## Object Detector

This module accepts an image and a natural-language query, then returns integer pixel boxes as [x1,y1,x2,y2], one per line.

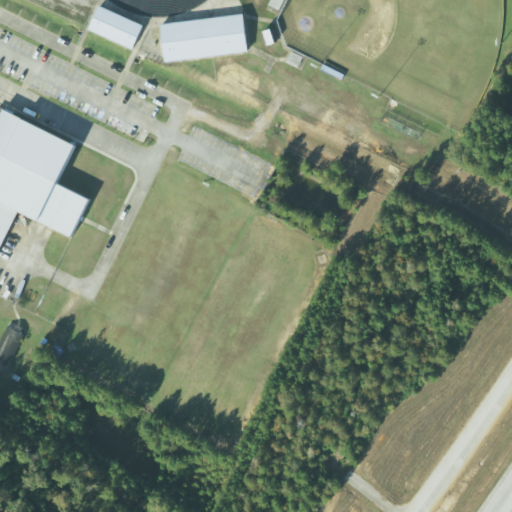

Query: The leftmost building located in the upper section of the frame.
[0,108,91,250]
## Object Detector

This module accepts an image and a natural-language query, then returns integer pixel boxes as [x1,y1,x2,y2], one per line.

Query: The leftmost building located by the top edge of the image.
[88,6,143,52]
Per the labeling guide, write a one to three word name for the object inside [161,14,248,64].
building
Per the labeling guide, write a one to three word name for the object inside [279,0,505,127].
baseball field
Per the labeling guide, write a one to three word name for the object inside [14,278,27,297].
vehicle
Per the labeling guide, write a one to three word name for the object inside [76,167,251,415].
sports field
